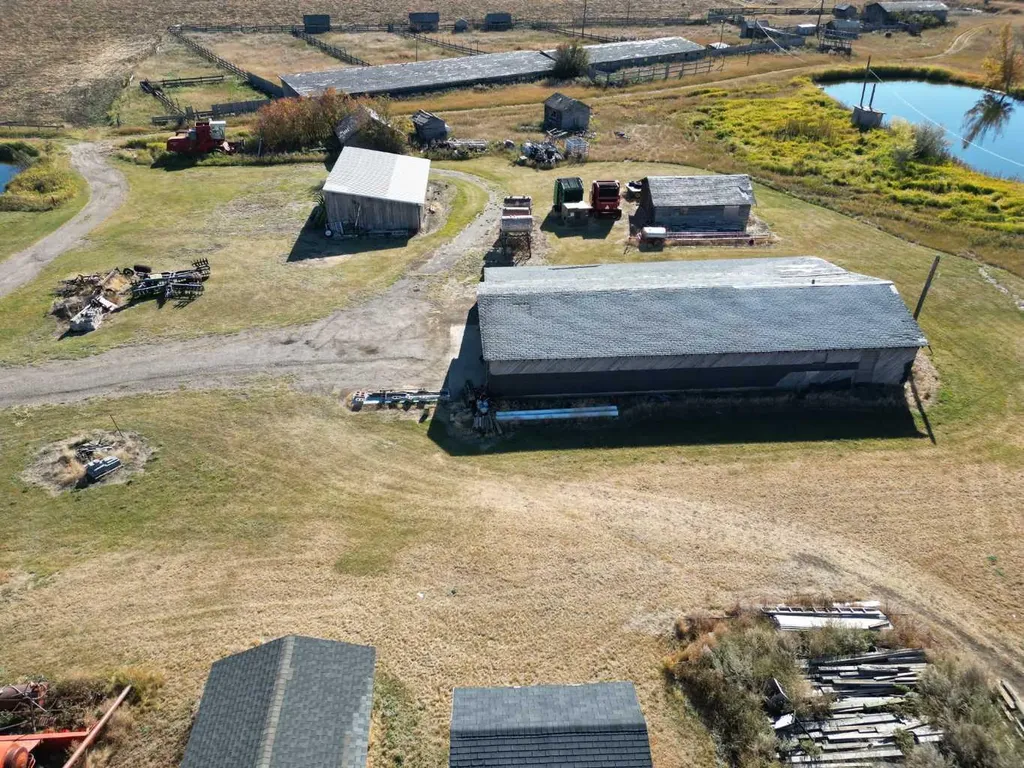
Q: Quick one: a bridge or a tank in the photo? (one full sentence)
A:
Visible in the photo is a tank.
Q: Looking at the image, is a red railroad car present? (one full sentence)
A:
No, the scene contains no red railroad car.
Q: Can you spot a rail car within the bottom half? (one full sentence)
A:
No, looking within the bottom half, there is no rail car.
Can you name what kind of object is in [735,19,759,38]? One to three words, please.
shed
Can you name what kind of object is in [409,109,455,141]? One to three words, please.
shed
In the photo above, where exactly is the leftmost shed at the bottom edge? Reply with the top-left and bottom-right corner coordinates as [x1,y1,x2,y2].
[178,633,377,768]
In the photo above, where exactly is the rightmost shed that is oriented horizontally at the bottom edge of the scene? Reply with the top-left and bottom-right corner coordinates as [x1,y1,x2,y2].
[449,680,650,768]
